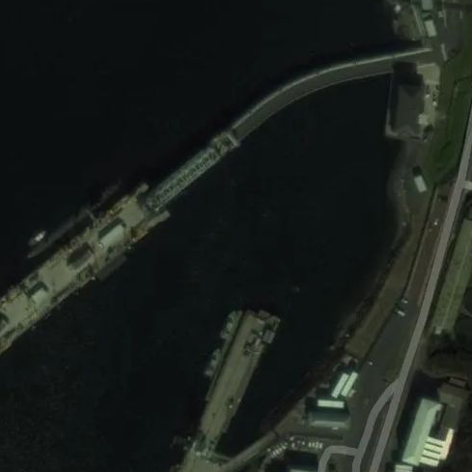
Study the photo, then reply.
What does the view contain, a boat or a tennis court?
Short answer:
boat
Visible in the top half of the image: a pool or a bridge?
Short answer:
bridge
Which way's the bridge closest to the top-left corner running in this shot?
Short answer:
on a diagonal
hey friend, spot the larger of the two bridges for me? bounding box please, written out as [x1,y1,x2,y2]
[230,48,431,139]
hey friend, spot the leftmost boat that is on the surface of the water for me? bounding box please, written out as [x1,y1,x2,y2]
[27,229,47,245]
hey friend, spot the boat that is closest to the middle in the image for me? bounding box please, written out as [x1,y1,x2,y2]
[221,310,238,339]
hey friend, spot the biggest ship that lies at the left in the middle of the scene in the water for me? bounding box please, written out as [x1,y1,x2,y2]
[28,182,119,256]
